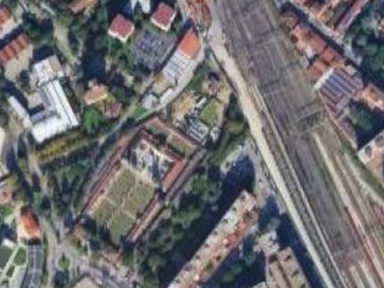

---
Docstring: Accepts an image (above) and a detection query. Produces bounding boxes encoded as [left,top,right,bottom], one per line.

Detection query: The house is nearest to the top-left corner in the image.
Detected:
[0,7,22,43]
